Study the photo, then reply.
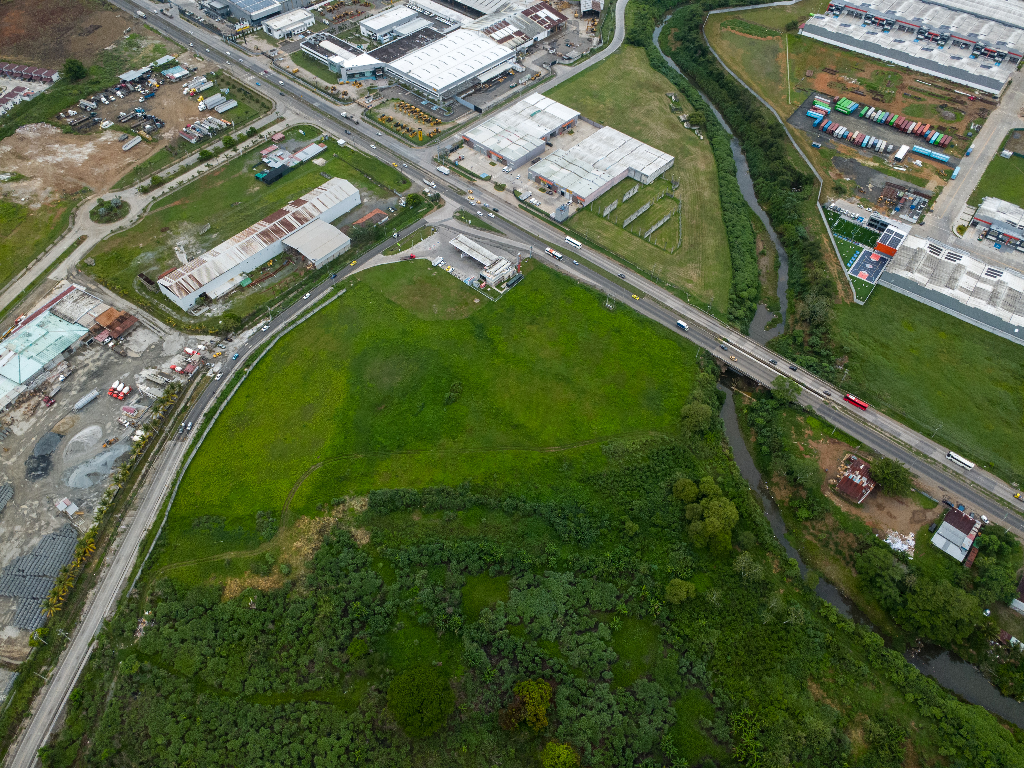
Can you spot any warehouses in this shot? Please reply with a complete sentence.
Yes, you can see a warehouse in this photo.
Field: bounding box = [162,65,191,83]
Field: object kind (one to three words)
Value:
house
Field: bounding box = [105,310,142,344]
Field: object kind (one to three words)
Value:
shed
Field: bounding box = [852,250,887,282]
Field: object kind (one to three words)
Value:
sports court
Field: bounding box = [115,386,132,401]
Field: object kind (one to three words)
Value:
vehicle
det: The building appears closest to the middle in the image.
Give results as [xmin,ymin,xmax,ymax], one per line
[480,256,517,290]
